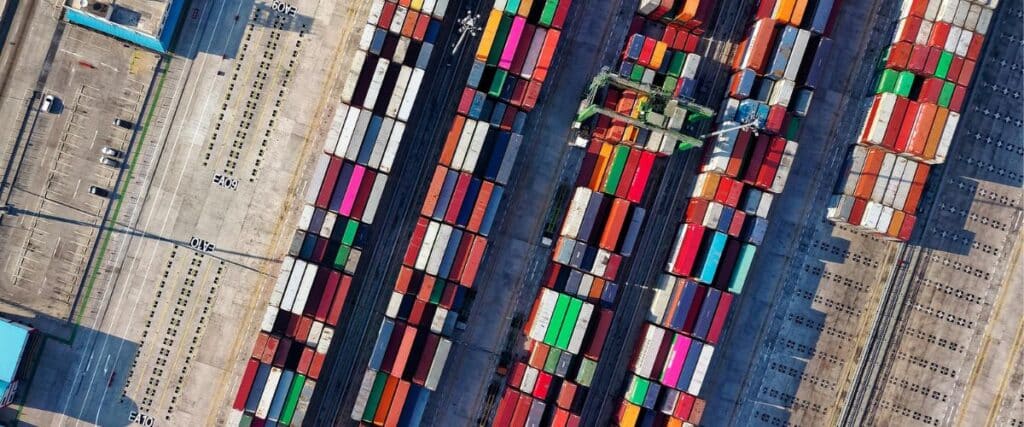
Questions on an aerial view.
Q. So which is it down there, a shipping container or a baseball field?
shipping container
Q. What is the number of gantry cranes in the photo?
one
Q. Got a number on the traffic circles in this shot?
0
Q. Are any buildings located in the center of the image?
No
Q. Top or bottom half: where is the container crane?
top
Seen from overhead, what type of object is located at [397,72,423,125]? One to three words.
shipping container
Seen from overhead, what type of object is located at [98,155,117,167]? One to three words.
vehicle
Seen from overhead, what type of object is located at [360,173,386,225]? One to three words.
shipping container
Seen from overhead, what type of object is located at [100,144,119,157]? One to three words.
vehicle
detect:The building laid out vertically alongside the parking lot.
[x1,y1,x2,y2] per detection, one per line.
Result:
[0,309,47,411]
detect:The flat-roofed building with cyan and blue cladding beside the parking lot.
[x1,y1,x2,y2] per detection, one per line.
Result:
[62,0,188,54]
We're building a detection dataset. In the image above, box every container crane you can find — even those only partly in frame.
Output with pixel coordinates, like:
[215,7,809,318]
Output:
[567,66,716,163]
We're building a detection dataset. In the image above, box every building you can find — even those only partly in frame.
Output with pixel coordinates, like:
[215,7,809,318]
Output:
[0,309,47,411]
[62,0,188,54]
